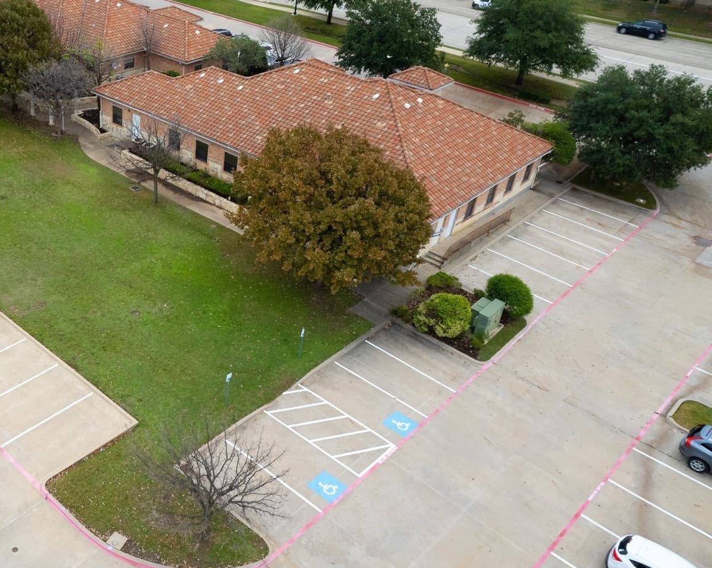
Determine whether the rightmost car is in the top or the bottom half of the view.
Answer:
bottom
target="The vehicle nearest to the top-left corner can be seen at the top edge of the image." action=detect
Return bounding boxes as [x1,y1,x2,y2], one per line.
[224,23,258,42]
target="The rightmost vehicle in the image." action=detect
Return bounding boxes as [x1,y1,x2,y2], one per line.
[679,422,712,468]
